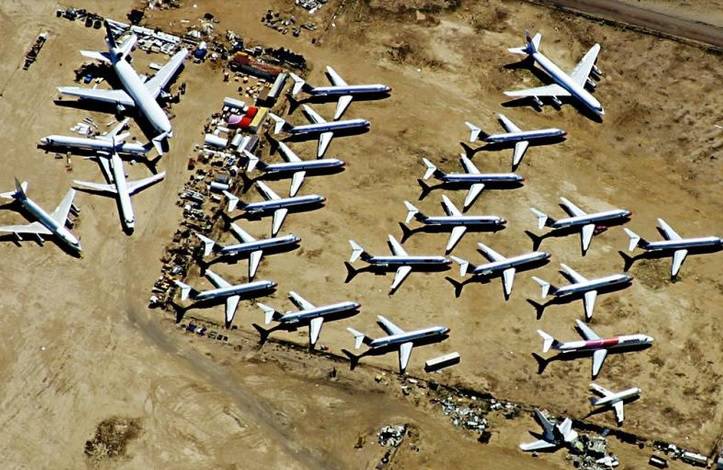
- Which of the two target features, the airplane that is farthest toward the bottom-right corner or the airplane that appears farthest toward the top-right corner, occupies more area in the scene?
the airplane that appears farthest toward the top-right corner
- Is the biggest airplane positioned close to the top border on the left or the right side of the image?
left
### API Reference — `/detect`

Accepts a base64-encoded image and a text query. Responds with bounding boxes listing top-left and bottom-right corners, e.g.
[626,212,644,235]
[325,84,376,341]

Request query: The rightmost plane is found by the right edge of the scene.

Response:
[625,220,723,275]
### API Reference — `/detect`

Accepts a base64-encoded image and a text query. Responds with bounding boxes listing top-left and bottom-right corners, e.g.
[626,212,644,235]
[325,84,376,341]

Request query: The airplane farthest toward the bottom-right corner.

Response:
[587,383,641,423]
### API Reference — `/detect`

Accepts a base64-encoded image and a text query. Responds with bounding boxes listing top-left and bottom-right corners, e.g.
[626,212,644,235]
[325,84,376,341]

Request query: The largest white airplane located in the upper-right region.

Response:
[502,30,606,116]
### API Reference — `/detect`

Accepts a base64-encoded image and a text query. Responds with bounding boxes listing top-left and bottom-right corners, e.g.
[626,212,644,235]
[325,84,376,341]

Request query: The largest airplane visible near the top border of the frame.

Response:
[58,21,188,135]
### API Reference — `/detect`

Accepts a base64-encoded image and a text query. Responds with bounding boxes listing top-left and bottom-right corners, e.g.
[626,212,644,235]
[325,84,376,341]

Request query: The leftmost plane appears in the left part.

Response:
[0,176,82,251]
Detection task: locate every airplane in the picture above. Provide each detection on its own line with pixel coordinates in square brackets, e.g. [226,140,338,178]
[531,198,631,250]
[347,315,450,370]
[450,243,551,295]
[292,68,390,119]
[198,223,300,277]
[224,181,325,234]
[466,114,566,165]
[258,291,361,345]
[174,268,277,323]
[625,220,723,275]
[424,154,524,207]
[540,320,655,376]
[502,30,606,116]
[0,176,82,251]
[245,143,345,195]
[71,140,167,228]
[405,196,506,250]
[270,105,369,156]
[41,120,170,180]
[350,235,452,290]
[58,21,188,135]
[587,383,641,423]
[532,264,633,318]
